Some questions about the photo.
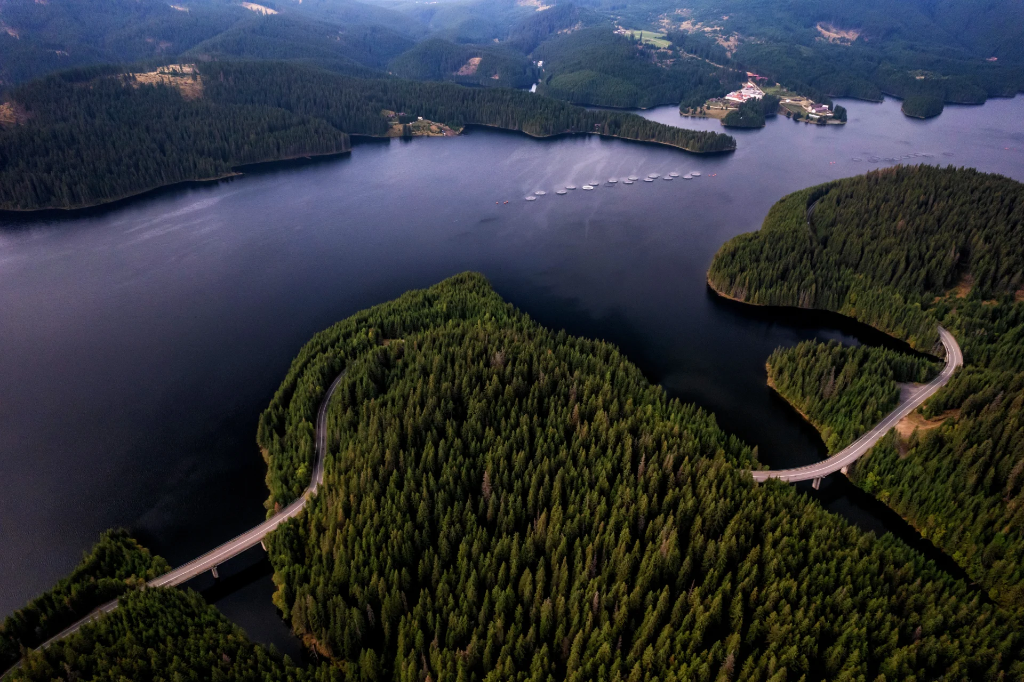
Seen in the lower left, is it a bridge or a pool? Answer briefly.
bridge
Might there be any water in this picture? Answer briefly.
Yes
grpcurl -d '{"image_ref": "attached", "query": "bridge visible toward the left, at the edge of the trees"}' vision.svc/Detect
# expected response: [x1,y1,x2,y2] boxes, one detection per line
[149,510,289,591]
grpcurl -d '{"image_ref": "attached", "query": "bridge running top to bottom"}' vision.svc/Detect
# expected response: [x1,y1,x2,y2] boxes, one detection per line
[942,325,965,366]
